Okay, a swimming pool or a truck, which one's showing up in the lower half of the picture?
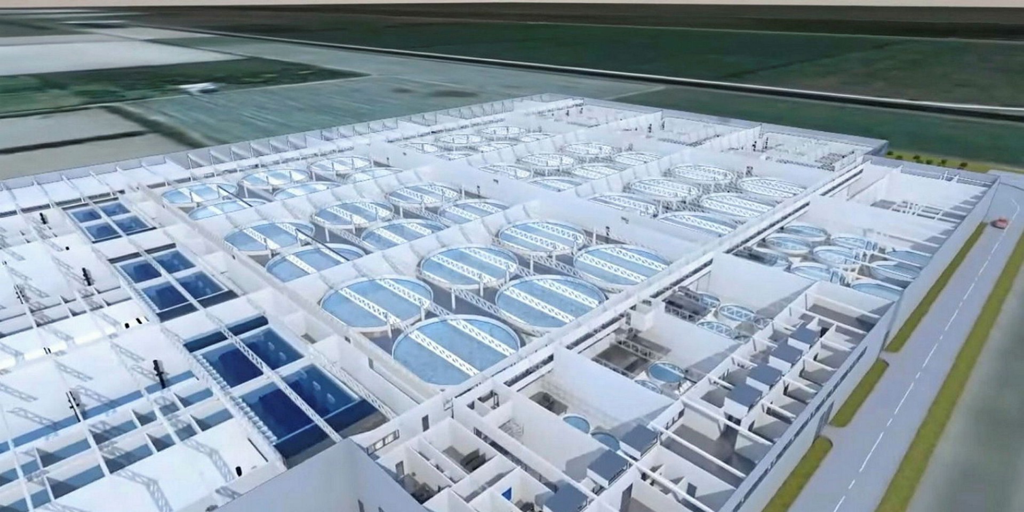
swimming pool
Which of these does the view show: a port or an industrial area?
industrial area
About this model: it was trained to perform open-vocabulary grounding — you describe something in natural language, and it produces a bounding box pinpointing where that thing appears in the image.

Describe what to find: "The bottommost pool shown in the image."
[188,322,365,472]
